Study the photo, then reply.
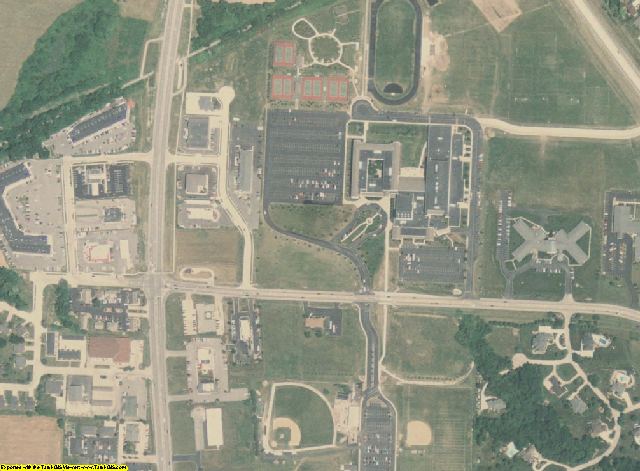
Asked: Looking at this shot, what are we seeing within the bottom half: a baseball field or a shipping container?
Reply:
baseball field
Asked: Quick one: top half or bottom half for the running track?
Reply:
top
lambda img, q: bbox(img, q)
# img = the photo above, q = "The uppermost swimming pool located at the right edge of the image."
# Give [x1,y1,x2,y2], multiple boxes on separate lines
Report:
[592,334,611,347]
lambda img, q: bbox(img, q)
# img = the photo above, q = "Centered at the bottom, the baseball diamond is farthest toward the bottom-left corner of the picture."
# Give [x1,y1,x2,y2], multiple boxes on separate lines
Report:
[264,382,337,452]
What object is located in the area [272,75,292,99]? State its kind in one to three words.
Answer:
tennis court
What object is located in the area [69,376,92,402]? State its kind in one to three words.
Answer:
building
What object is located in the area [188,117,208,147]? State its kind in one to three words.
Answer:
building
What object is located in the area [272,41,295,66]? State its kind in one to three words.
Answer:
tennis court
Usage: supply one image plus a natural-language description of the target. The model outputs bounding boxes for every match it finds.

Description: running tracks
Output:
[369,0,421,104]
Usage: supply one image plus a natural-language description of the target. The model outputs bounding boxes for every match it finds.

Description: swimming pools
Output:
[592,334,611,347]
[503,441,519,459]
[616,372,631,385]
